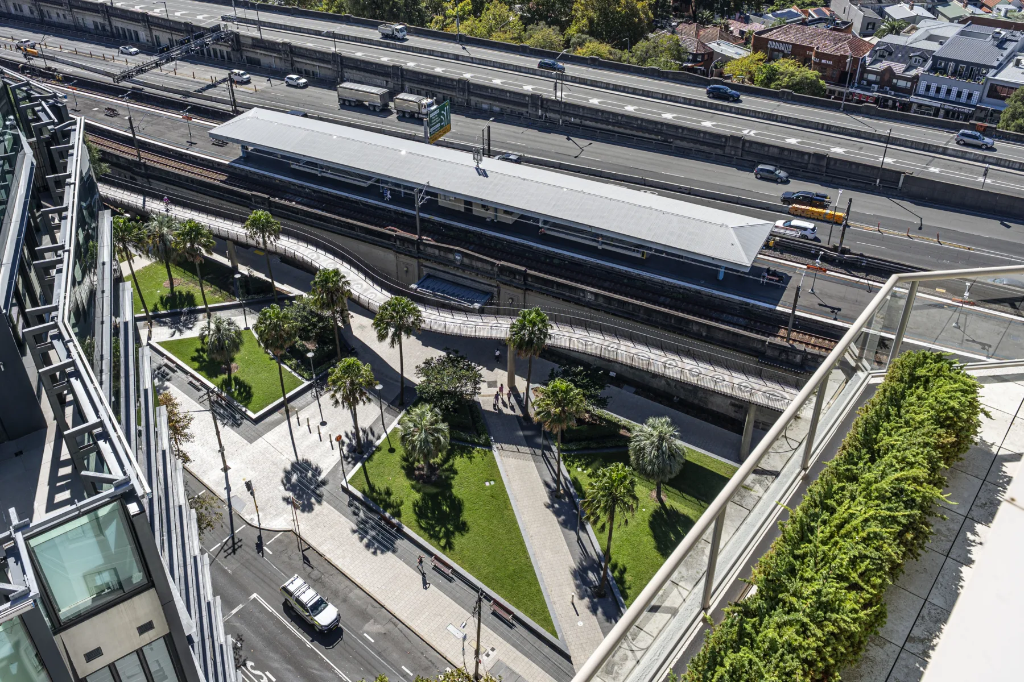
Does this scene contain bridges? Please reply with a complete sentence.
Yes, there's a bridge here.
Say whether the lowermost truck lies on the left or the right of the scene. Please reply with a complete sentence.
You can find the lowermost truck on the left side of the picture.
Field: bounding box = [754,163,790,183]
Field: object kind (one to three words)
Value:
car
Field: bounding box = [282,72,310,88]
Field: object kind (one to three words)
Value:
car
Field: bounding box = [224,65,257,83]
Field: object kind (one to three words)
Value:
vehicle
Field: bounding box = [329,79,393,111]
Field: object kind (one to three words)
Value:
trailer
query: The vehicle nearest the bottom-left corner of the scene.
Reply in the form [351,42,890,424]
[280,575,347,638]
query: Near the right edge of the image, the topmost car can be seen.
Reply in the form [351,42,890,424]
[956,130,994,149]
